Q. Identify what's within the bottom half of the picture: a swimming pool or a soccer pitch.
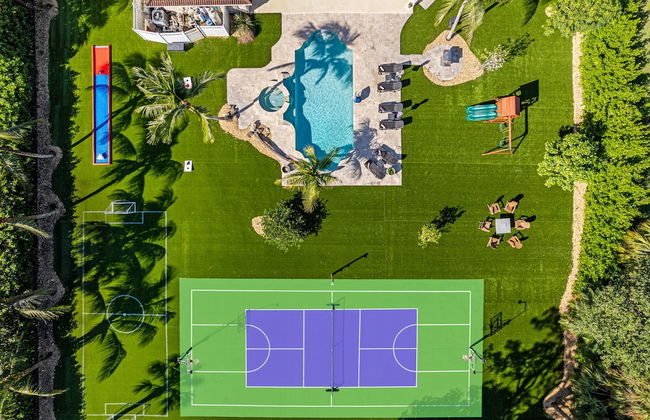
soccer pitch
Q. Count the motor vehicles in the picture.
0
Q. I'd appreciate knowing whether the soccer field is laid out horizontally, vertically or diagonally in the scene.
vertically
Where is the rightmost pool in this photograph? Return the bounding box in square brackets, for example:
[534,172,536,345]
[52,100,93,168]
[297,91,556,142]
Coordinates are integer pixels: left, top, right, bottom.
[281,27,355,172]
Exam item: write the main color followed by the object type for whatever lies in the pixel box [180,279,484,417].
green sports court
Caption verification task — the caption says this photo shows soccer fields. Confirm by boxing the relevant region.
[83,211,167,416]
